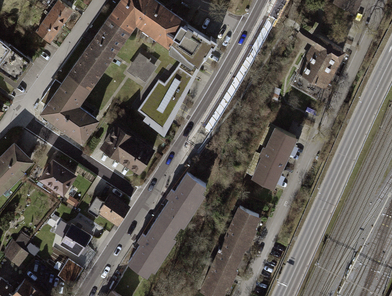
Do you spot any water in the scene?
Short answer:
No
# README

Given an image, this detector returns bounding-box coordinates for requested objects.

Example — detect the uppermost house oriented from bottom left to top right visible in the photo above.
[36,0,74,44]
